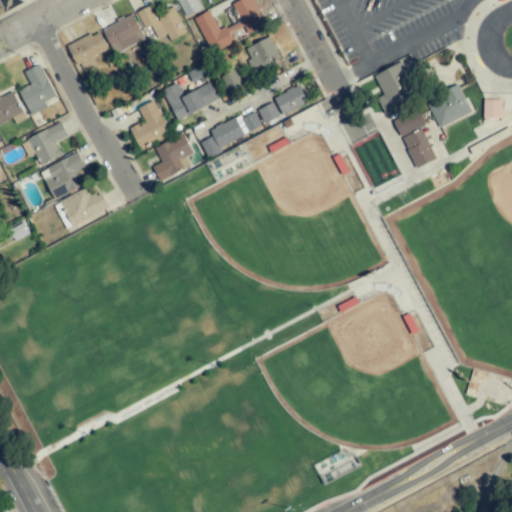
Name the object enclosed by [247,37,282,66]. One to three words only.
house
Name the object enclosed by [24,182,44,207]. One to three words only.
swimming pool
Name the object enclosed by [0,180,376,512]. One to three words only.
sports field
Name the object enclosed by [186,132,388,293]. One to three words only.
baseball field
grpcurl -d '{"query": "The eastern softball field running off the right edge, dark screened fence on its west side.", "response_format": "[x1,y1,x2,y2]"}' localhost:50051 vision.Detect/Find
[382,135,512,379]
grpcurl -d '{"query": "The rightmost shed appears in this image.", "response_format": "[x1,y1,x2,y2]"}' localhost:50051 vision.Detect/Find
[484,99,504,119]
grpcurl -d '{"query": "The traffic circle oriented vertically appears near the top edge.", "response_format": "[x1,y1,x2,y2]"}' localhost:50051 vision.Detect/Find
[478,2,512,78]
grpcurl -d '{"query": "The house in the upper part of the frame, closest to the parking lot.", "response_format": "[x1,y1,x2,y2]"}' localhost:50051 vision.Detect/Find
[376,63,406,113]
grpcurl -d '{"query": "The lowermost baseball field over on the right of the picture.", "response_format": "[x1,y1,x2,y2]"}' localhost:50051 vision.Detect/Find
[256,292,456,452]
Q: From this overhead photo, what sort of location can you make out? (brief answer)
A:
sports ground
